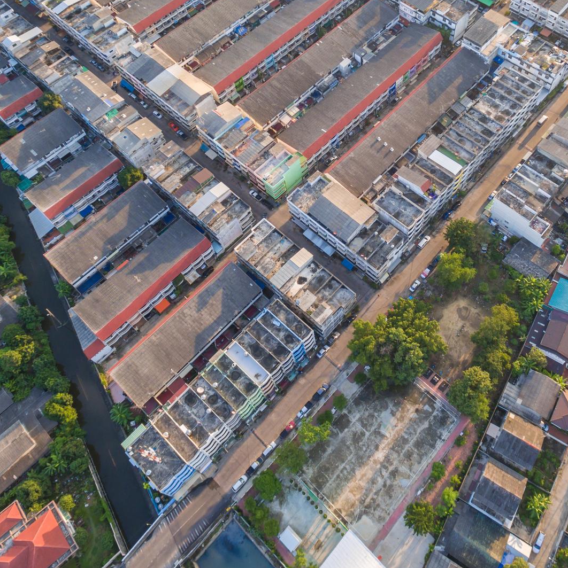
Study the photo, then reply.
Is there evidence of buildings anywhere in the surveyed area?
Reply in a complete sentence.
Yes, there is a building in the image.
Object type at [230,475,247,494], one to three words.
vehicle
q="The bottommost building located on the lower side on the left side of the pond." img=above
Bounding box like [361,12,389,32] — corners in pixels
[0,500,91,568]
